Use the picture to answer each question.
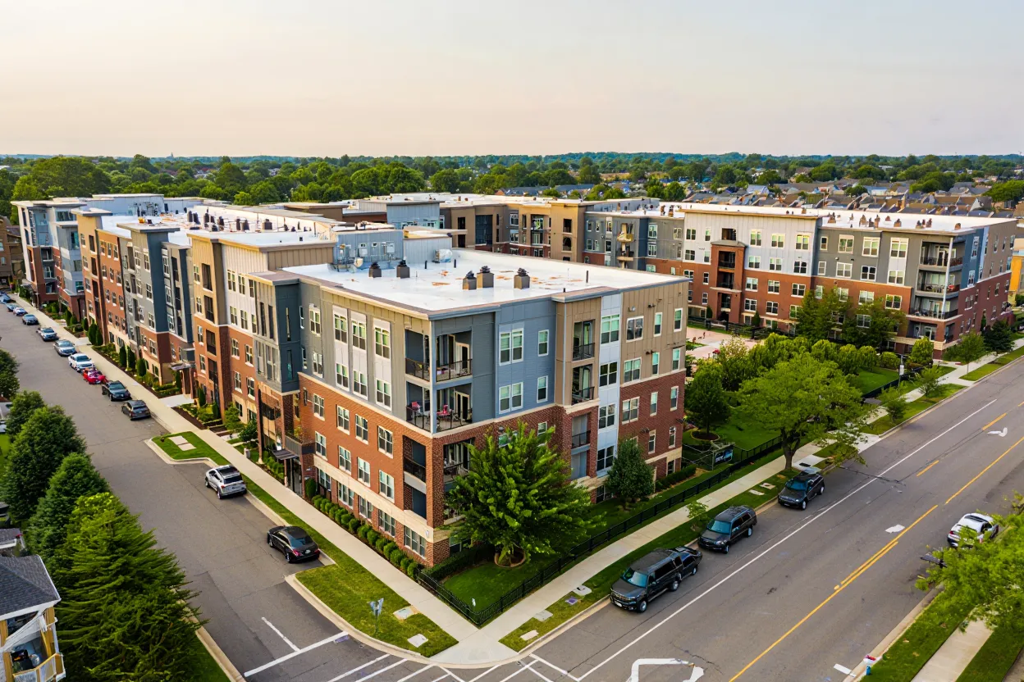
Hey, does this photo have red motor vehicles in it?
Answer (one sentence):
Yes, the frame does contain a red motor vehicle.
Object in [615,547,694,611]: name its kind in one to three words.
car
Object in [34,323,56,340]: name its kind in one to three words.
car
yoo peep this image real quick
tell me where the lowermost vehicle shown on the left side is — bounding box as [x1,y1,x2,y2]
[254,521,313,560]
